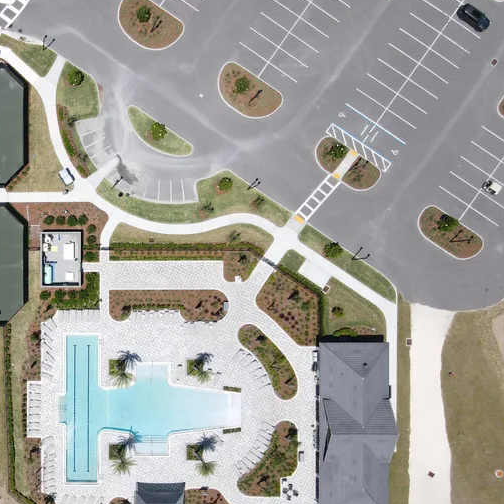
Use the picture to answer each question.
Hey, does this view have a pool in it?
Yes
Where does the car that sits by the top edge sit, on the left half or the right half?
right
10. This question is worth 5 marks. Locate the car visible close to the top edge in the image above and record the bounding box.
[457,4,488,32]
